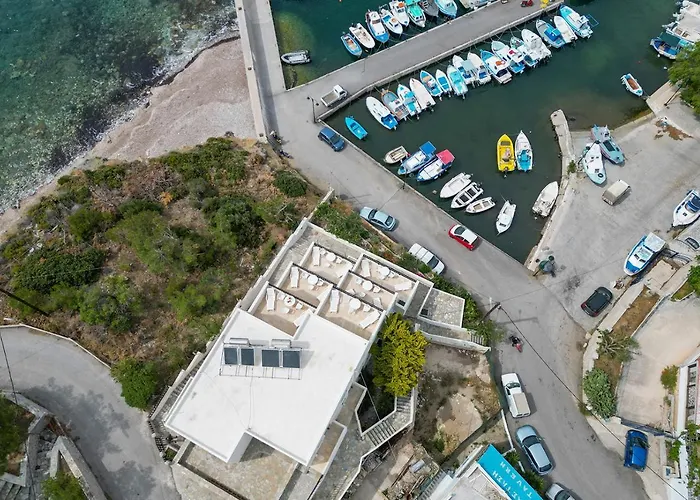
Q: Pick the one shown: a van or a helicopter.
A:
van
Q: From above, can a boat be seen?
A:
Yes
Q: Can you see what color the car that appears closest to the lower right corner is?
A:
blue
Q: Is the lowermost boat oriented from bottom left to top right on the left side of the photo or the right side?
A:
right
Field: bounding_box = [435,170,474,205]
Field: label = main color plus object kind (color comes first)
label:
white boat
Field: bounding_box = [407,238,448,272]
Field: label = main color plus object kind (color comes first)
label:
white car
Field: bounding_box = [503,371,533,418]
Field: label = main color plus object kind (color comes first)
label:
white truck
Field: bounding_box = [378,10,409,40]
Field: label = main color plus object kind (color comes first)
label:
white boat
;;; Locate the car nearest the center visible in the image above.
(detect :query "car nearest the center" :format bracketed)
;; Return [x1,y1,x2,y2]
[358,205,398,232]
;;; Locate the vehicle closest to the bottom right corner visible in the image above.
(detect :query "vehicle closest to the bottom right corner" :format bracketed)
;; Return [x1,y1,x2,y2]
[626,427,654,472]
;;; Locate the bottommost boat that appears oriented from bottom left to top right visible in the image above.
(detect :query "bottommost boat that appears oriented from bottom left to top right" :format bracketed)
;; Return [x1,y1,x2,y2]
[623,223,676,274]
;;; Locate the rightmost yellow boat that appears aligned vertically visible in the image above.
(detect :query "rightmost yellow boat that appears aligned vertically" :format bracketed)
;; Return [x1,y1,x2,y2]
[498,133,514,177]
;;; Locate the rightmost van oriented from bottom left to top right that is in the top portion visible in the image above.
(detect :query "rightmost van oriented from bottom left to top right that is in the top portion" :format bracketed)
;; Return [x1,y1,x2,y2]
[601,174,638,204]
